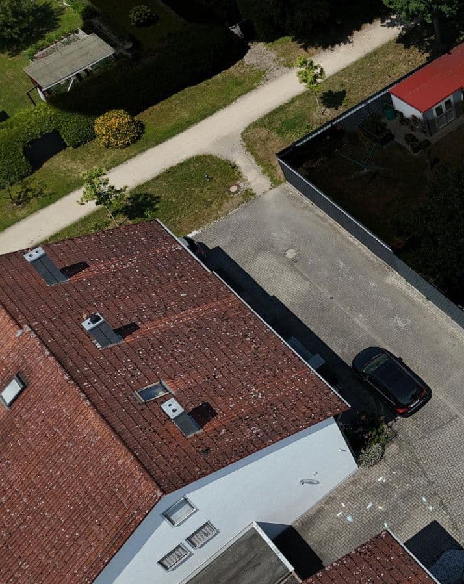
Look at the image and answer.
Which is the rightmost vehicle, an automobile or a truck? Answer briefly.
automobile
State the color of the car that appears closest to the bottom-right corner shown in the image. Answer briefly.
black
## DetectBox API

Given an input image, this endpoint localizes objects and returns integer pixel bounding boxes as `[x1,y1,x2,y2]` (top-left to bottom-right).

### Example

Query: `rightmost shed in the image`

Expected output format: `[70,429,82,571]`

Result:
[389,38,464,137]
